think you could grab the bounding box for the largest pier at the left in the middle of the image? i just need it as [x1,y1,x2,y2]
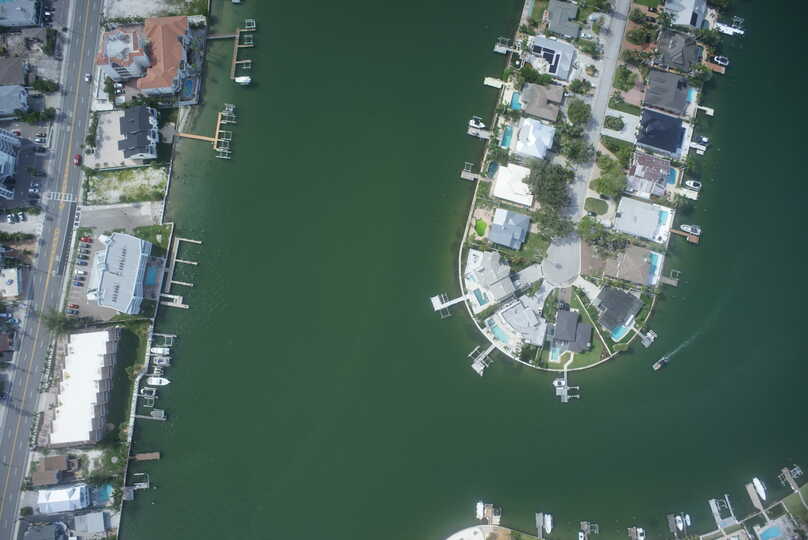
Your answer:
[163,237,203,293]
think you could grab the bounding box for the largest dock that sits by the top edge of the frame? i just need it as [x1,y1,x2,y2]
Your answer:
[208,27,257,80]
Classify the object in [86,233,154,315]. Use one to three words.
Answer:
building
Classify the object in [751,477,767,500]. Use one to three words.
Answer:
boat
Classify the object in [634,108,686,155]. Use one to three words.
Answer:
house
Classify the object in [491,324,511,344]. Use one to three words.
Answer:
swimming pool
